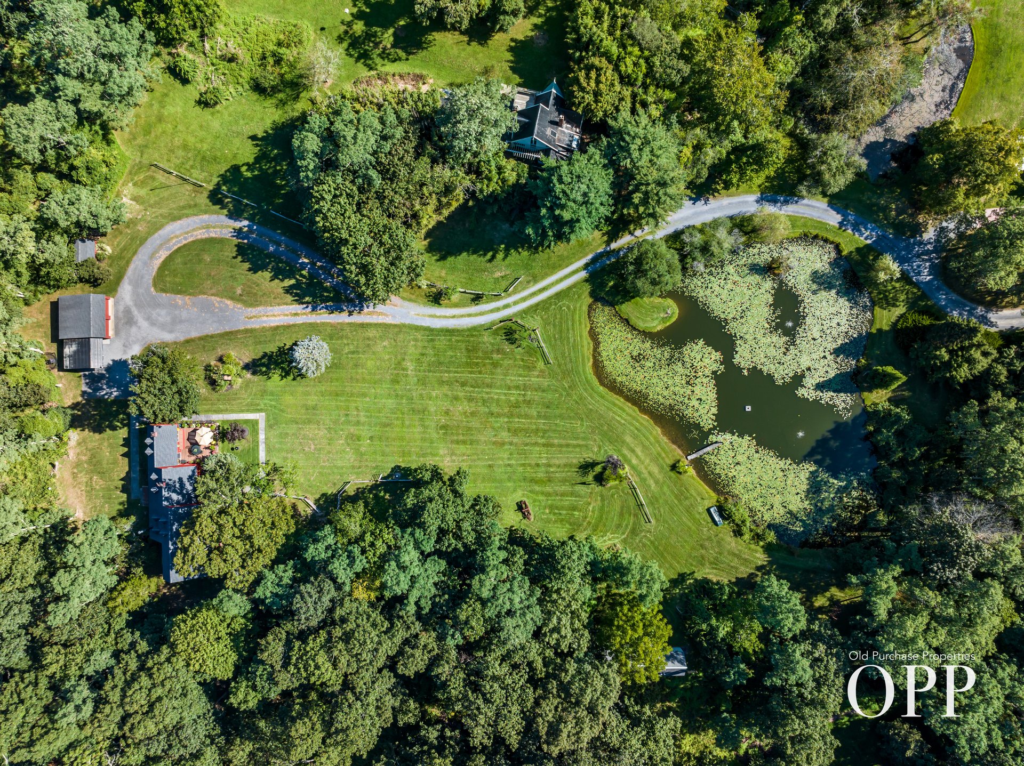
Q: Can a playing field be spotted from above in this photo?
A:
No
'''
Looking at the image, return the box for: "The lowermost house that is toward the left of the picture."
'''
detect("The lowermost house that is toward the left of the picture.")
[140,423,213,587]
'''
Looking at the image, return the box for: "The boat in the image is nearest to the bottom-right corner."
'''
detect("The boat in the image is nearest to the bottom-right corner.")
[706,505,723,525]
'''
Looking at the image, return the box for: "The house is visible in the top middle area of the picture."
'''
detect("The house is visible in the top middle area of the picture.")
[510,78,587,166]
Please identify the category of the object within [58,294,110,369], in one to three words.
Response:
building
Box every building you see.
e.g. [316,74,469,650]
[657,648,688,676]
[140,423,213,587]
[74,239,99,263]
[510,78,587,166]
[58,294,110,369]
